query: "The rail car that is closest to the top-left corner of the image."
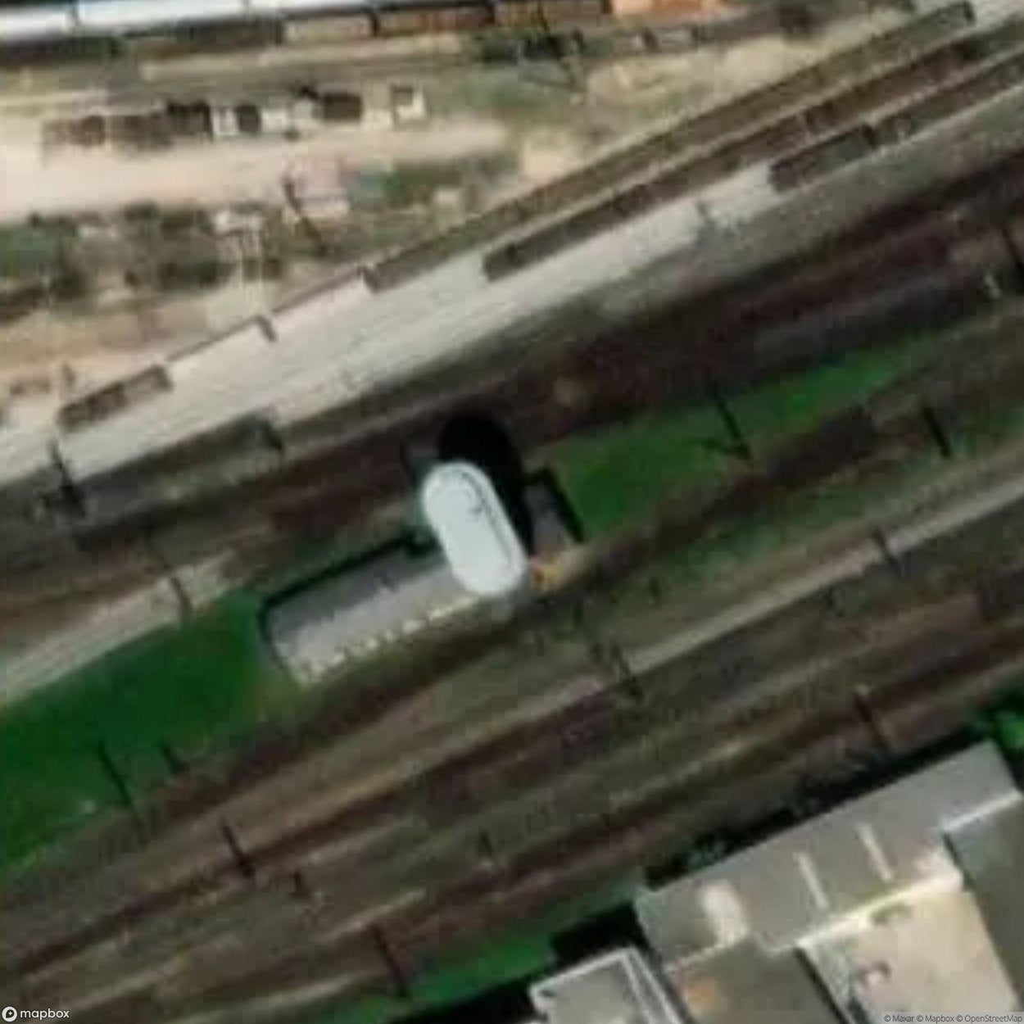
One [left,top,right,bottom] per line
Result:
[0,37,81,68]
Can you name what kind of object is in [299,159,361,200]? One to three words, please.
shed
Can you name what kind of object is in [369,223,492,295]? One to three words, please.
rail car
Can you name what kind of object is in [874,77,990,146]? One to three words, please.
rail car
